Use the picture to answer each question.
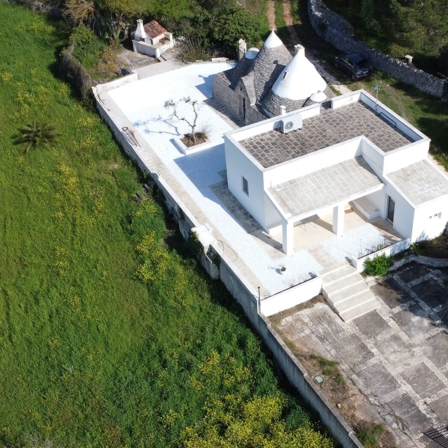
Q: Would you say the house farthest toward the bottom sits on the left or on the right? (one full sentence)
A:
The house farthest toward the bottom is on the right side of the image.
